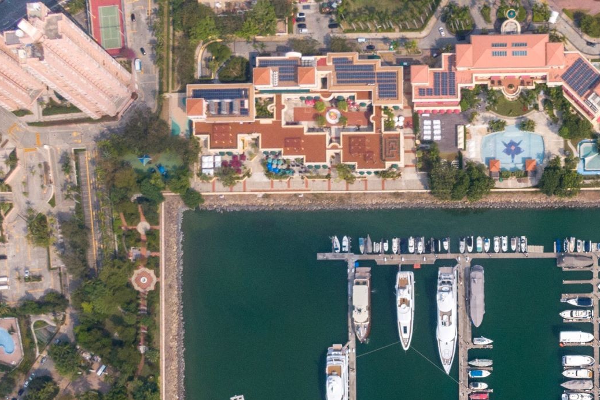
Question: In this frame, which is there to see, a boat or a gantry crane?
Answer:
boat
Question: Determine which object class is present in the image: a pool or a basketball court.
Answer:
pool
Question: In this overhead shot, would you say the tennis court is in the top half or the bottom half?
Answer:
top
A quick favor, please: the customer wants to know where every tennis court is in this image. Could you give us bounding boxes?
[90,0,134,58]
